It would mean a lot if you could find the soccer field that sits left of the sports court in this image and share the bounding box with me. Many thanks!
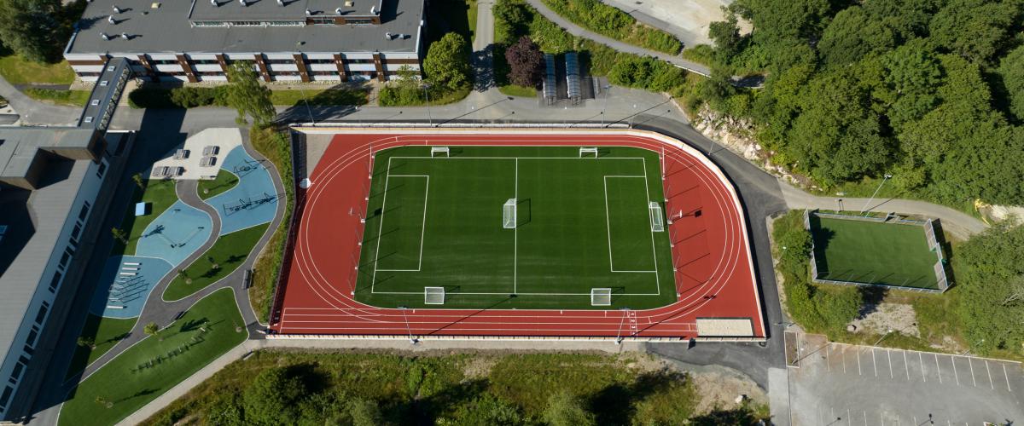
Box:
[352,146,679,310]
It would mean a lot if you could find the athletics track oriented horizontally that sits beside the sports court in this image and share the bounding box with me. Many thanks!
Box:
[269,130,766,339]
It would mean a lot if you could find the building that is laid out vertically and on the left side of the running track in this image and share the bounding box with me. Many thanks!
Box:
[0,125,139,426]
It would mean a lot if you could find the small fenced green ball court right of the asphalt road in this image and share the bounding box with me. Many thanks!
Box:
[808,206,953,290]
